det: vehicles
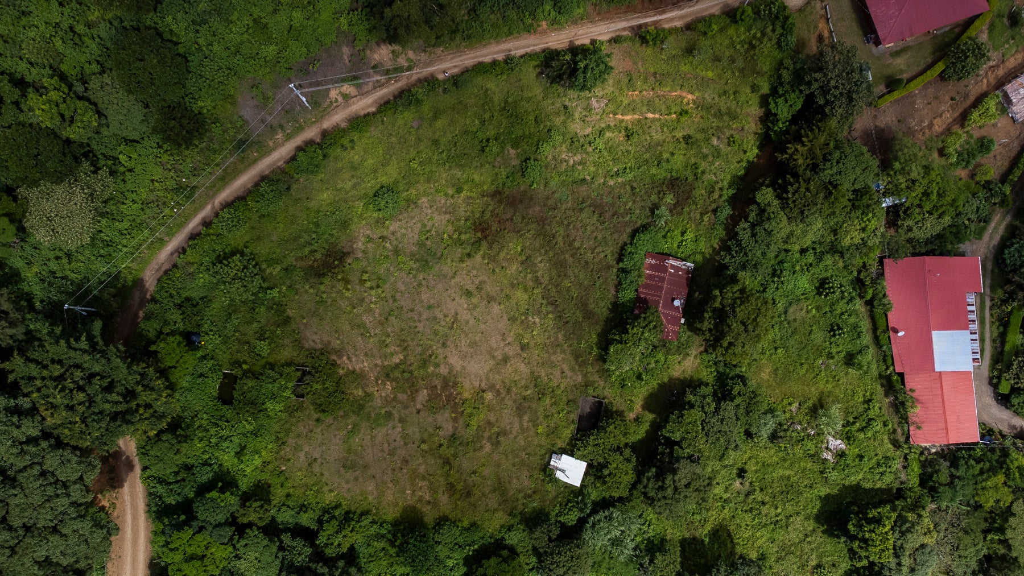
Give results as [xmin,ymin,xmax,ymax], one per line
[861,34,882,50]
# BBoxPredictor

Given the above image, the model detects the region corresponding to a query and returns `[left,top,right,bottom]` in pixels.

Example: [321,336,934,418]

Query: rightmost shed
[996,74,1024,121]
